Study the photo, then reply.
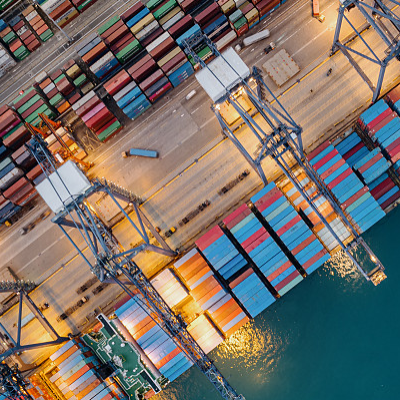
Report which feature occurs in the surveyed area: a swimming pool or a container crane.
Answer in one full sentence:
It is a container crane that can be seen here.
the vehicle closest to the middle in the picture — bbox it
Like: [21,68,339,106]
[180,199,211,223]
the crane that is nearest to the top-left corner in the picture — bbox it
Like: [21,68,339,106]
[18,105,92,173]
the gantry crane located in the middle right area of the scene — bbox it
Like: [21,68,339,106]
[192,36,395,288]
